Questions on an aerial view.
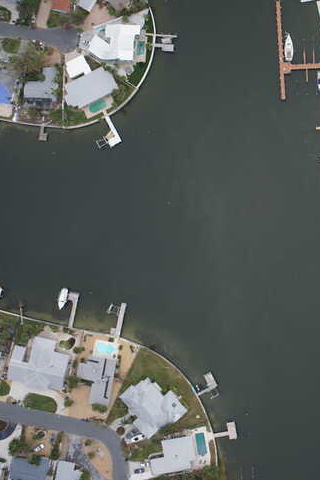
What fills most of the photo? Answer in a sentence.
For the most part, this view shows water.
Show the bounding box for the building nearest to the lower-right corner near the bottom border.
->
[148,433,198,476]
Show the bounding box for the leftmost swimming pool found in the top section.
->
[87,97,108,113]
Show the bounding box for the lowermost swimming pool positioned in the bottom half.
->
[195,433,207,456]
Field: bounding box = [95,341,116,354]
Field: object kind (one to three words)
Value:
swimming pool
